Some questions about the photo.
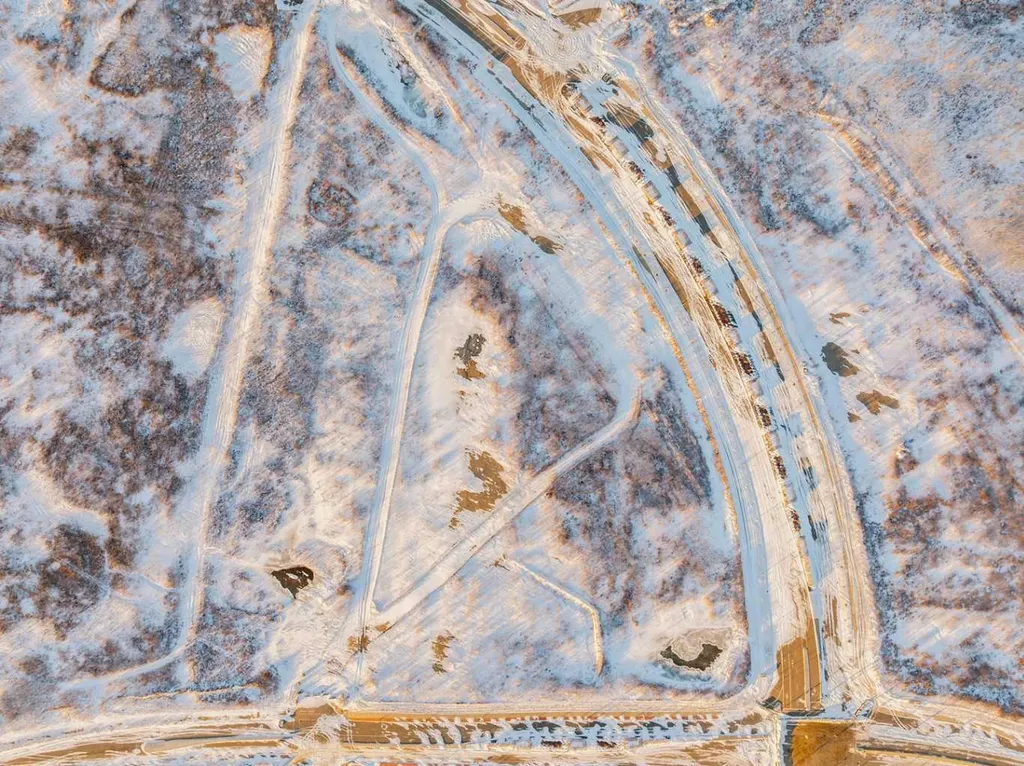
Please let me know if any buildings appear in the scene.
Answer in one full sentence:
No, the photo shows no building.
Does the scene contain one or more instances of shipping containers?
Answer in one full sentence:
No, there's no shipping container here.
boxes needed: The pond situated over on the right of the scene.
[659,626,731,672]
